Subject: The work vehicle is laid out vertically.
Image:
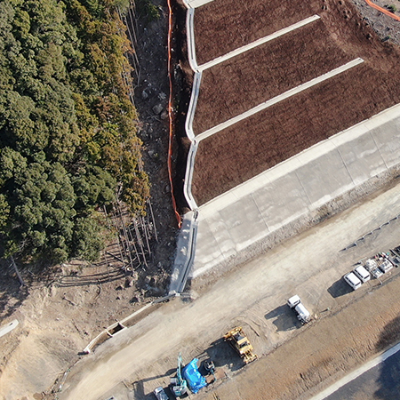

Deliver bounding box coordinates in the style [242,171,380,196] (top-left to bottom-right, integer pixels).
[173,358,190,400]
